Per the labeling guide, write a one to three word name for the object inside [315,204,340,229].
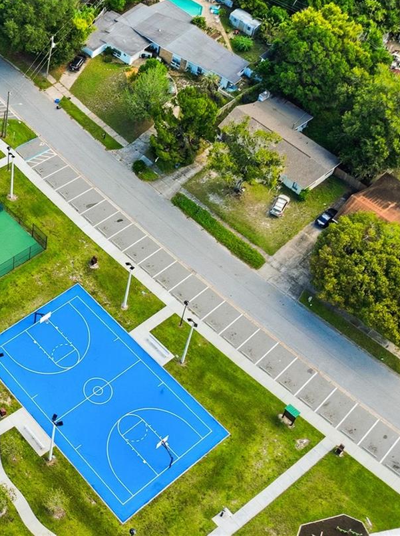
car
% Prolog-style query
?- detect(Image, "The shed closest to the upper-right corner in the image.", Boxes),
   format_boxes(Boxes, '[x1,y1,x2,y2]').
[230,2,266,35]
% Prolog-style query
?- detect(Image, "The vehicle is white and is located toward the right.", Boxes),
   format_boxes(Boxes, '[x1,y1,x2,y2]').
[269,193,290,218]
